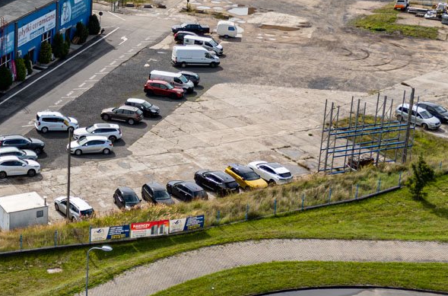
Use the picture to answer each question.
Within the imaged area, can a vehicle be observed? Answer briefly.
Yes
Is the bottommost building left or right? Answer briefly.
left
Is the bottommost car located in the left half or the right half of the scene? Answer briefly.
left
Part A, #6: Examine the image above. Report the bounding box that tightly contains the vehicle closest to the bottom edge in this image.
[52,195,97,228]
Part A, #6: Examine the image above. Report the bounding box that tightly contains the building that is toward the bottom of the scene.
[0,180,49,228]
